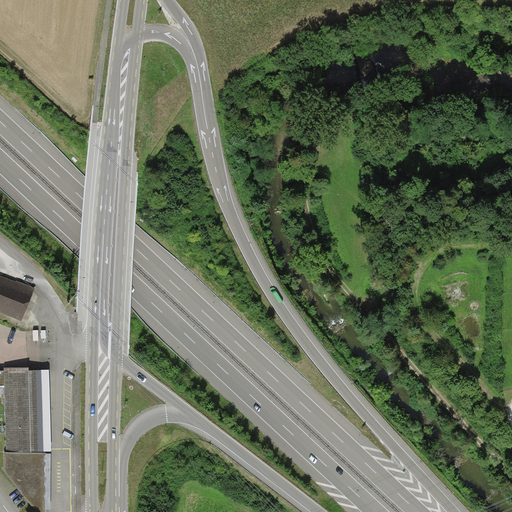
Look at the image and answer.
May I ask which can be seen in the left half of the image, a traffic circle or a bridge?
bridge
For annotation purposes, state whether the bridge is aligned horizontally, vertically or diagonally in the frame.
vertically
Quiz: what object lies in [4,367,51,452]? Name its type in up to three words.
building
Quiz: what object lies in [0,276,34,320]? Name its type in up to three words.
house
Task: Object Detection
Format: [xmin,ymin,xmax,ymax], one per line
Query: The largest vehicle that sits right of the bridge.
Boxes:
[268,286,284,304]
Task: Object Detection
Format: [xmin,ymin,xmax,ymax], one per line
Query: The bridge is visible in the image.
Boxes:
[74,138,138,344]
